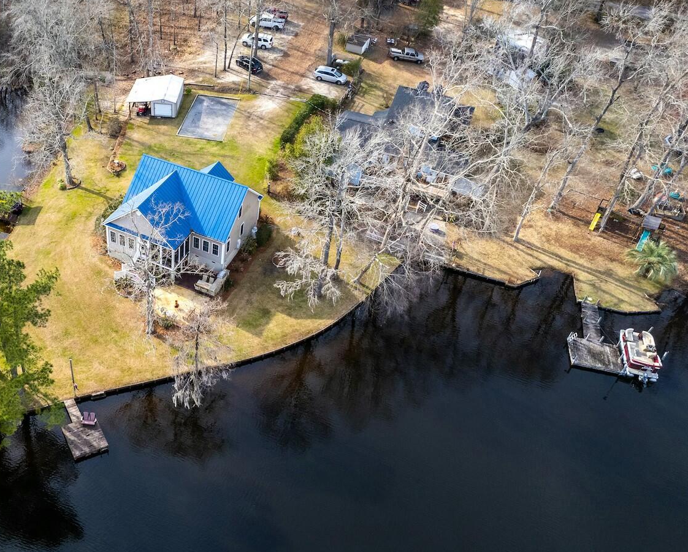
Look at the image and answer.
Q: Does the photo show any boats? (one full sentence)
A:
Yes, this view includes a boat.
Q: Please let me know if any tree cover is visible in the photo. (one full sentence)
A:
Yes, there's tree cover in this view.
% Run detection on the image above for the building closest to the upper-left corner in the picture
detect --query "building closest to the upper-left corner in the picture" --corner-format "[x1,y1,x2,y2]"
[130,71,184,119]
